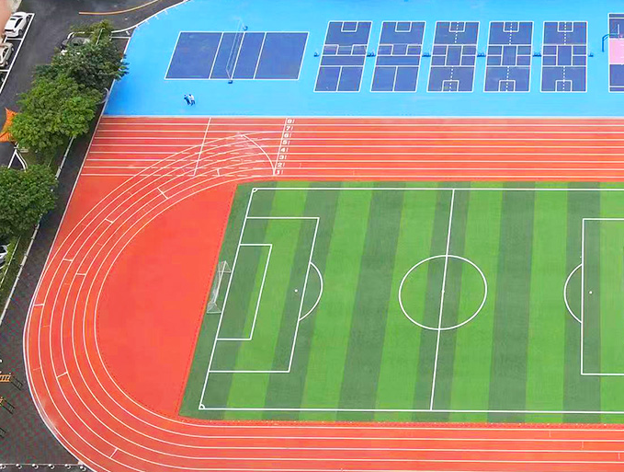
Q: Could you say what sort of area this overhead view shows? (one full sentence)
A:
It's a sports ground.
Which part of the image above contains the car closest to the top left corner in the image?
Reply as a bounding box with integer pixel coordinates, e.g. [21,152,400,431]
[0,12,30,37]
